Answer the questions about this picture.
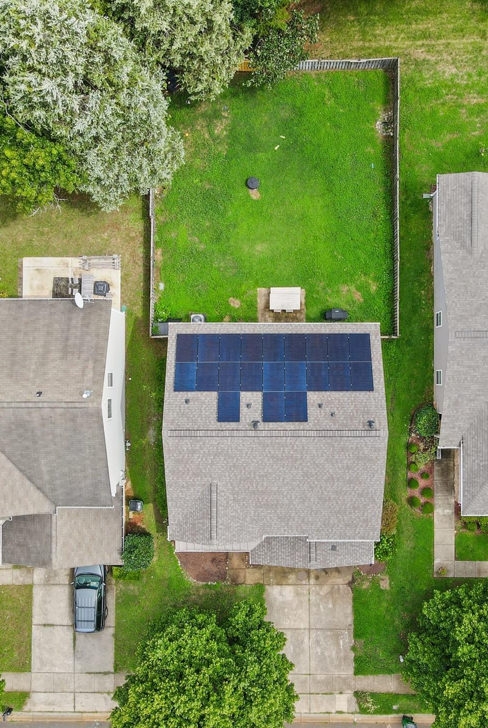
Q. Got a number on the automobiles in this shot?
one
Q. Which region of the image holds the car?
bottom left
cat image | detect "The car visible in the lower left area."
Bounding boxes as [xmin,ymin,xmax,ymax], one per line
[69,565,108,633]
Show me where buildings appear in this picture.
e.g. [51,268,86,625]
[162,321,387,569]
[0,284,128,569]
[433,172,488,516]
